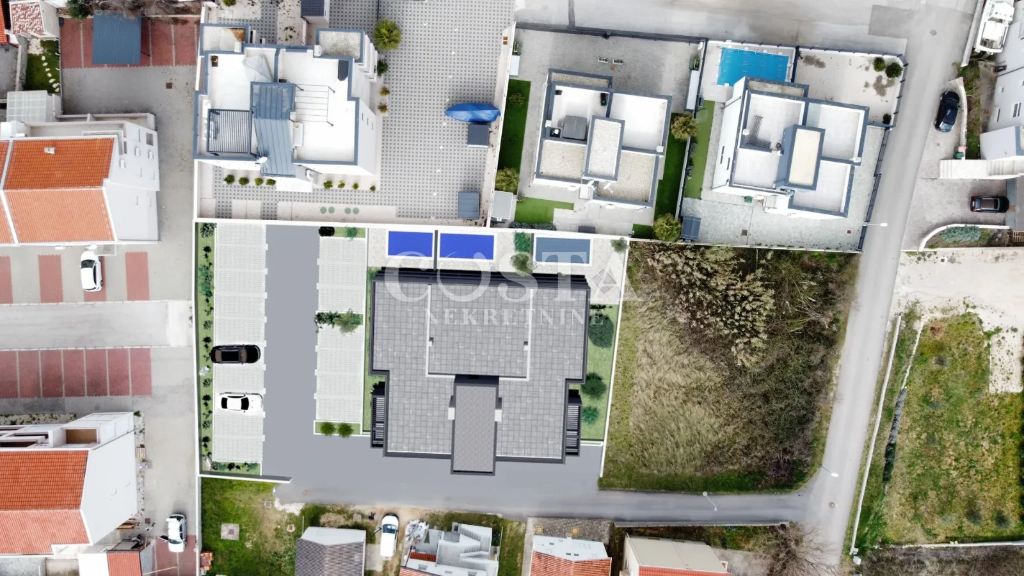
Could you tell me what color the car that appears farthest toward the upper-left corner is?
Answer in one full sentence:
The car that appears farthest toward the upper-left corner is white.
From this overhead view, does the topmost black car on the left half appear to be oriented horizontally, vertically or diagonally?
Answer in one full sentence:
In this picture, the topmost black car on the left half lies horizontally.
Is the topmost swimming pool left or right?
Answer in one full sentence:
The topmost swimming pool is on the right side of the image.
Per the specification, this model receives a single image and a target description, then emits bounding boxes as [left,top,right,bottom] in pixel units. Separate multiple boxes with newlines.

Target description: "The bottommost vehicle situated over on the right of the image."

[965,193,1005,215]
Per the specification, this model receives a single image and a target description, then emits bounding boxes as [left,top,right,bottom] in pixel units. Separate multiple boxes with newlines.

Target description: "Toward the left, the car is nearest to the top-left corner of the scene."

[80,251,108,292]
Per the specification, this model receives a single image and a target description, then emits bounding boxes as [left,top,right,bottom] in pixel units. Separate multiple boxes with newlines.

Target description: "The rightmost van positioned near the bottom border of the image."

[371,510,400,563]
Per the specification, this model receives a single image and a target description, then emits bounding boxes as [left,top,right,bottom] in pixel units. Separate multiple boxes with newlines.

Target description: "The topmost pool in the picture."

[715,48,791,87]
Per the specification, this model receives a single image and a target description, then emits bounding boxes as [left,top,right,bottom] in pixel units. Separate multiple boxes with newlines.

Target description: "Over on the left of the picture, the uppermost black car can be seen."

[210,343,262,366]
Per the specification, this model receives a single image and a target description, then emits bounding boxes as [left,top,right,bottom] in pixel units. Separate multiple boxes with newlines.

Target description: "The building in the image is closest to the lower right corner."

[624,525,729,576]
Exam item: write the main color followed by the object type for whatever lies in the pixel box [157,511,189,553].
white car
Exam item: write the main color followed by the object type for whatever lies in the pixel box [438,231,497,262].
blue swimming pool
